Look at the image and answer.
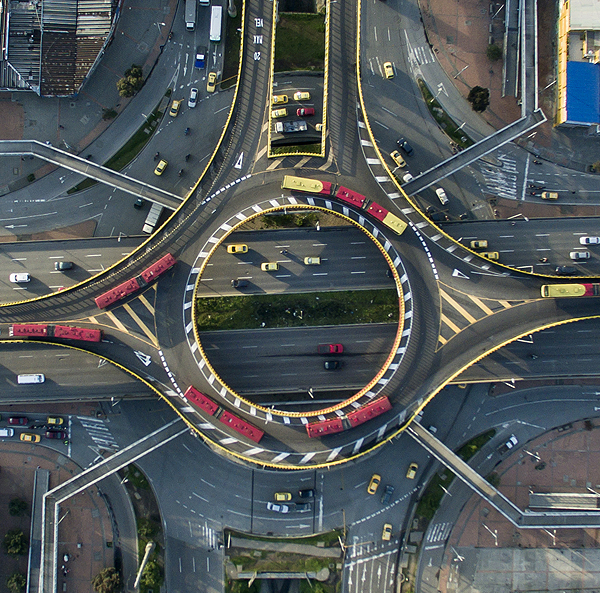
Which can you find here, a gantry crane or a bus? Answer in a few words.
bus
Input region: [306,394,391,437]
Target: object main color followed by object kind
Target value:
red bus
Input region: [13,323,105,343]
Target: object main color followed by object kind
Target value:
red bus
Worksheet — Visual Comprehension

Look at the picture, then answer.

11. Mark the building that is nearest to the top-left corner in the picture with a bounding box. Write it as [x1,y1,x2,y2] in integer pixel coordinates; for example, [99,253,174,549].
[0,0,118,97]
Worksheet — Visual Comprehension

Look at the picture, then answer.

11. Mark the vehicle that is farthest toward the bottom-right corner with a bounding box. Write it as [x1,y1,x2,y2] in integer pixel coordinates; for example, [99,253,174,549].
[497,434,519,453]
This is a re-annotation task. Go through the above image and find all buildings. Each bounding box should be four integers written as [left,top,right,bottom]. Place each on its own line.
[0,0,118,97]
[557,0,600,129]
